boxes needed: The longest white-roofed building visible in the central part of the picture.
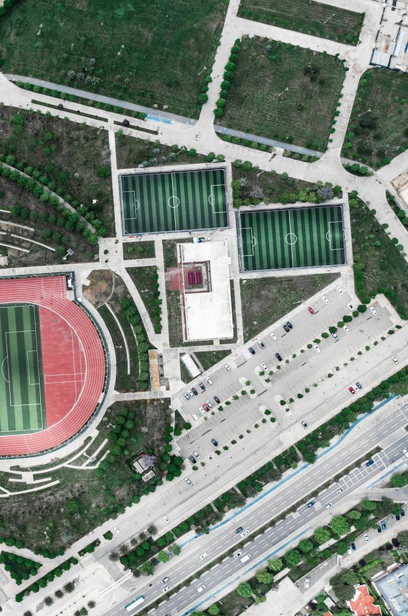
[174,238,235,343]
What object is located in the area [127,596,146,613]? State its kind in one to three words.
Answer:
vehicle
